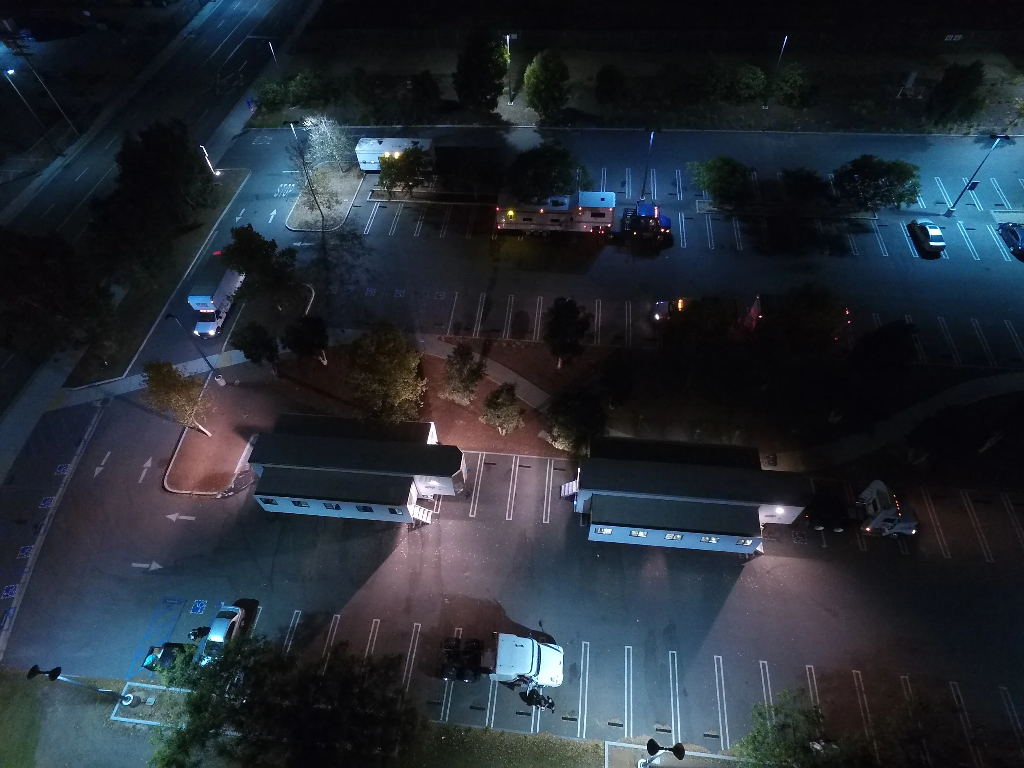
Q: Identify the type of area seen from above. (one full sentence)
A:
The picture captures a parking lot.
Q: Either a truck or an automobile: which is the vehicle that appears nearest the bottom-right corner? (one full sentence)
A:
The vehicle that appears nearest the bottom-right corner in the image is a truck.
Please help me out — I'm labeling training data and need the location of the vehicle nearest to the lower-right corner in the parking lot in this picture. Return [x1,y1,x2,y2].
[797,483,917,537]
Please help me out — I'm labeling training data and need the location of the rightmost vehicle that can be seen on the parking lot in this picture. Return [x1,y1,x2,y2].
[997,223,1024,257]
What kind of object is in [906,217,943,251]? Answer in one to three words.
car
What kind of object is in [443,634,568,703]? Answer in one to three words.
truck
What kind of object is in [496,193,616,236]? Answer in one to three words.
trailer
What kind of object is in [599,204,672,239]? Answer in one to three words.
truck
